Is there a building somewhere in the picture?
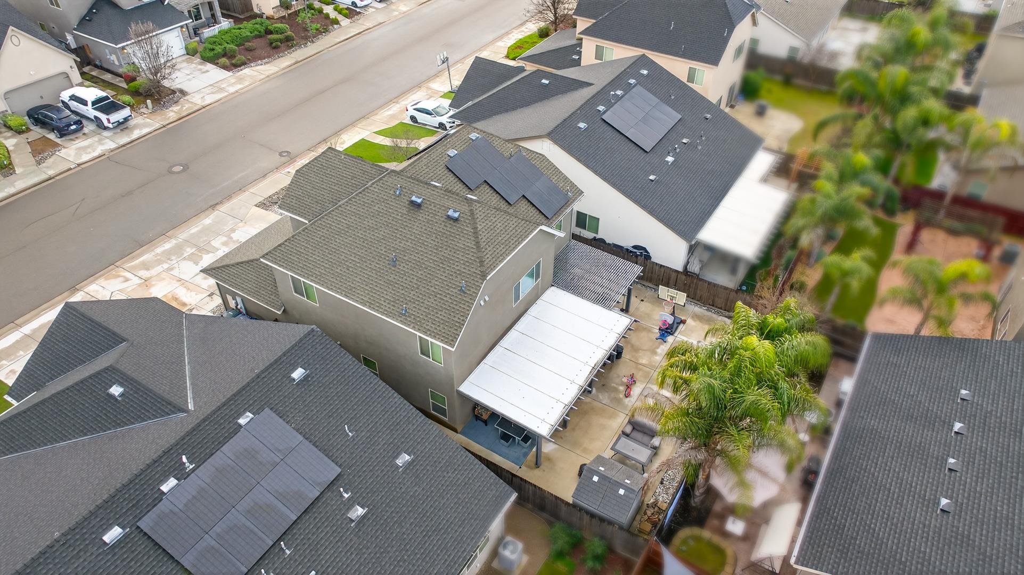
Yes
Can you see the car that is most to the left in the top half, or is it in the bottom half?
top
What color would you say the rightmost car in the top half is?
white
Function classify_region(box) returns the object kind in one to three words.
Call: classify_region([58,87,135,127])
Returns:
truck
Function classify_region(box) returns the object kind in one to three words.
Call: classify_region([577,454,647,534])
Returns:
shed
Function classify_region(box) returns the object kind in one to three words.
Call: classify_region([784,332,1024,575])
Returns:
house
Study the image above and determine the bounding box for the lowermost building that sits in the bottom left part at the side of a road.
[0,298,519,575]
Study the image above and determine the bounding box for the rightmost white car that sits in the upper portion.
[405,99,453,130]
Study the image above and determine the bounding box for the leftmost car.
[25,104,82,136]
